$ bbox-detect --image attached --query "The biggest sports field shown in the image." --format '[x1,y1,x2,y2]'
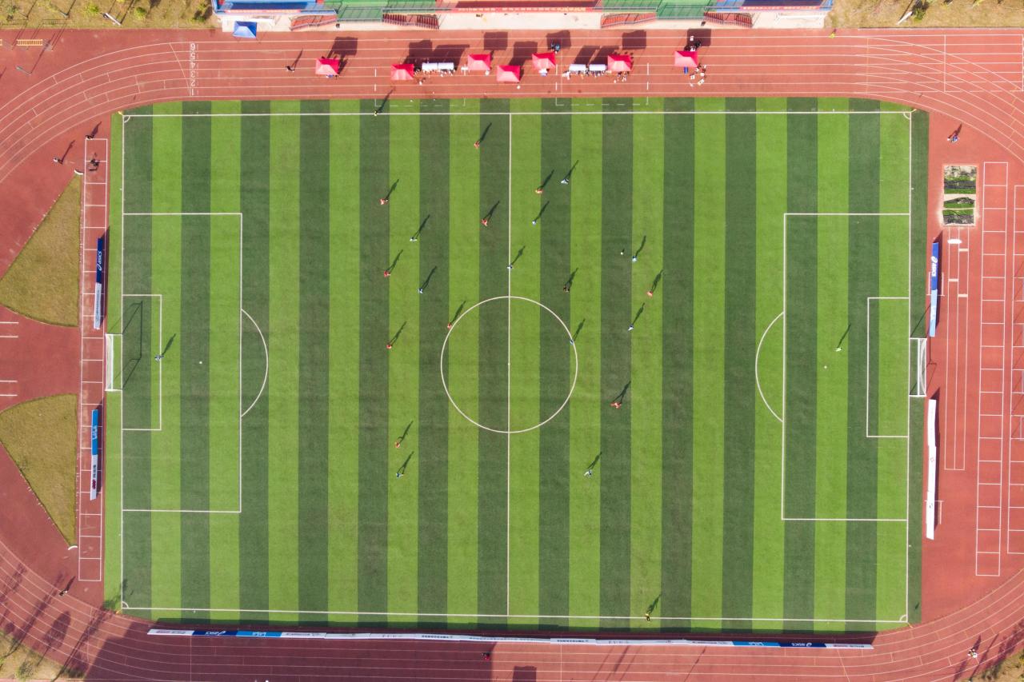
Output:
[104,64,929,637]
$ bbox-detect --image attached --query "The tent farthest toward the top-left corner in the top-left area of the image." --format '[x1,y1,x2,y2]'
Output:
[234,21,261,42]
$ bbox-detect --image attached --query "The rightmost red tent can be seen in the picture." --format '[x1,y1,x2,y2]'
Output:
[672,51,698,71]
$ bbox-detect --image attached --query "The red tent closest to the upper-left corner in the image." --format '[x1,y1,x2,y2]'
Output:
[316,59,342,79]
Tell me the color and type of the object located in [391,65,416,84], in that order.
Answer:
red tent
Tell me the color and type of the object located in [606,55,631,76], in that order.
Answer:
red tent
